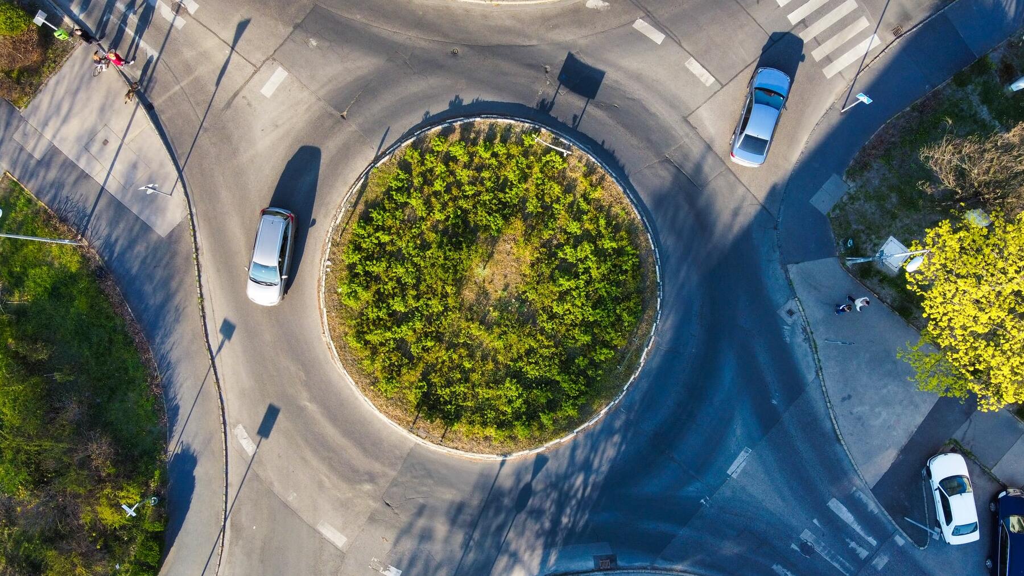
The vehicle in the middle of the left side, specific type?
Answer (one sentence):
The vehicle in the middle of the left side in the image is an automobile.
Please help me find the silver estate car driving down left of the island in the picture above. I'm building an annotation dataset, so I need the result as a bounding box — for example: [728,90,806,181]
[243,208,300,306]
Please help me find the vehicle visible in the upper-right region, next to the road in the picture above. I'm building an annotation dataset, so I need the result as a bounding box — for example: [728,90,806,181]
[728,66,789,169]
